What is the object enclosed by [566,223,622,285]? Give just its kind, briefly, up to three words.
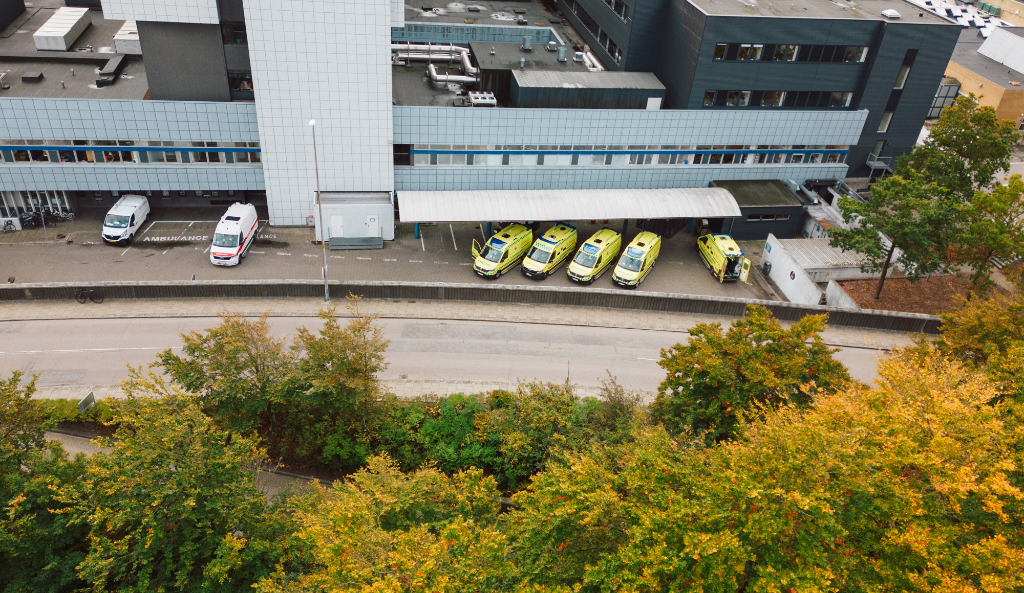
van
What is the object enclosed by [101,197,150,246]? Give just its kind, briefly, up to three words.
van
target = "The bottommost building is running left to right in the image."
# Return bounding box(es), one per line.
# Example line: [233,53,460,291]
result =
[777,237,901,285]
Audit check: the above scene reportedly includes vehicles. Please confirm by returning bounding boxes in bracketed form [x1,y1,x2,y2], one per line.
[566,223,622,285]
[211,201,260,267]
[695,234,758,283]
[520,219,580,281]
[612,227,663,289]
[472,220,534,280]
[101,197,150,246]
